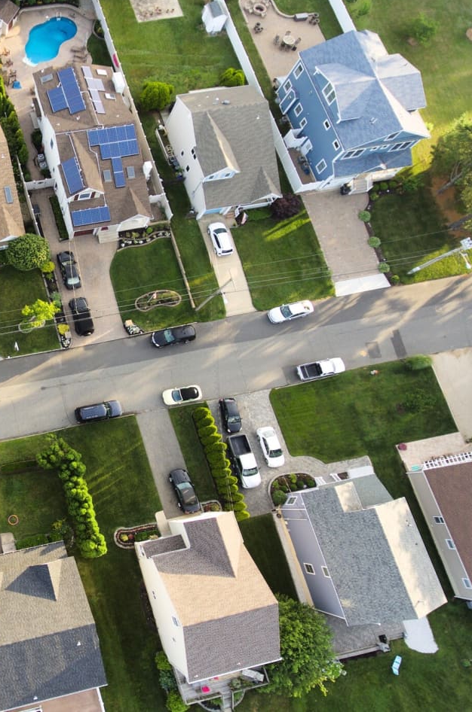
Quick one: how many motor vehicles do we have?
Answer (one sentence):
Altogether the scene contains 12 motor vehicles.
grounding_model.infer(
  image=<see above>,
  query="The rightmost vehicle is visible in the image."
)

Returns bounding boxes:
[293,355,346,383]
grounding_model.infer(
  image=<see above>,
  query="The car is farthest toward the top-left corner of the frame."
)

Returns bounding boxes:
[56,251,80,291]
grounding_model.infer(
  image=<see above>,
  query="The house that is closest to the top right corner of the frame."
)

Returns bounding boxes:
[283,19,428,200]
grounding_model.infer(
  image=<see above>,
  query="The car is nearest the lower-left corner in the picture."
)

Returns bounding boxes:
[167,467,200,516]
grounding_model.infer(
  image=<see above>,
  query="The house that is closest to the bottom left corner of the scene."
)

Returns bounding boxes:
[0,541,105,712]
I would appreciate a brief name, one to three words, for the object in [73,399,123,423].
car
